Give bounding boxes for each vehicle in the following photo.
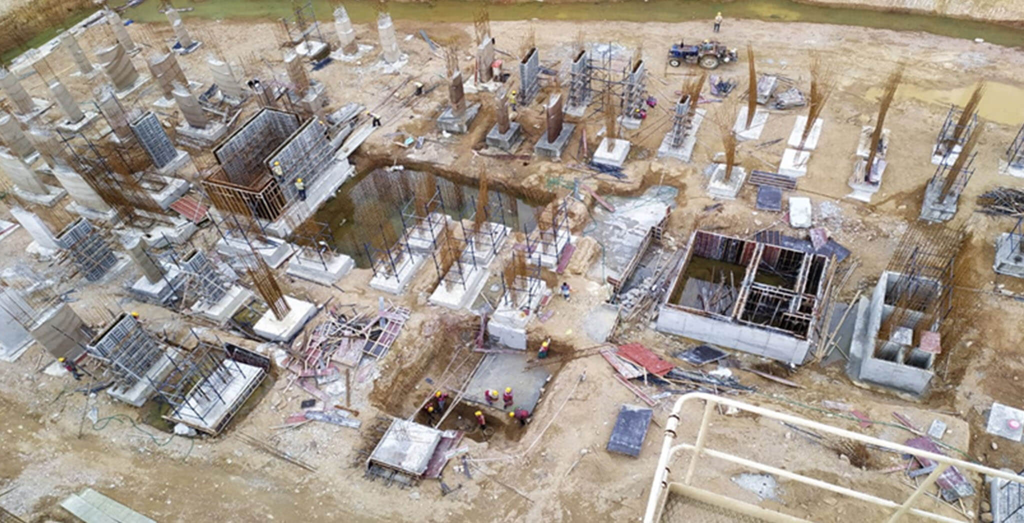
[666,37,737,77]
